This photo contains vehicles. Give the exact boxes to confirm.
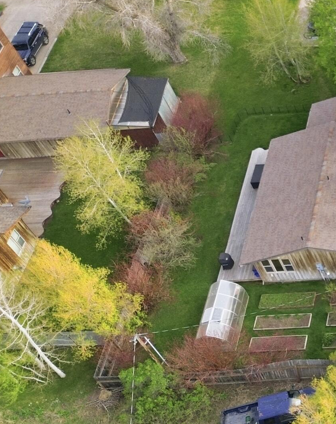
[221,388,318,424]
[9,23,49,68]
